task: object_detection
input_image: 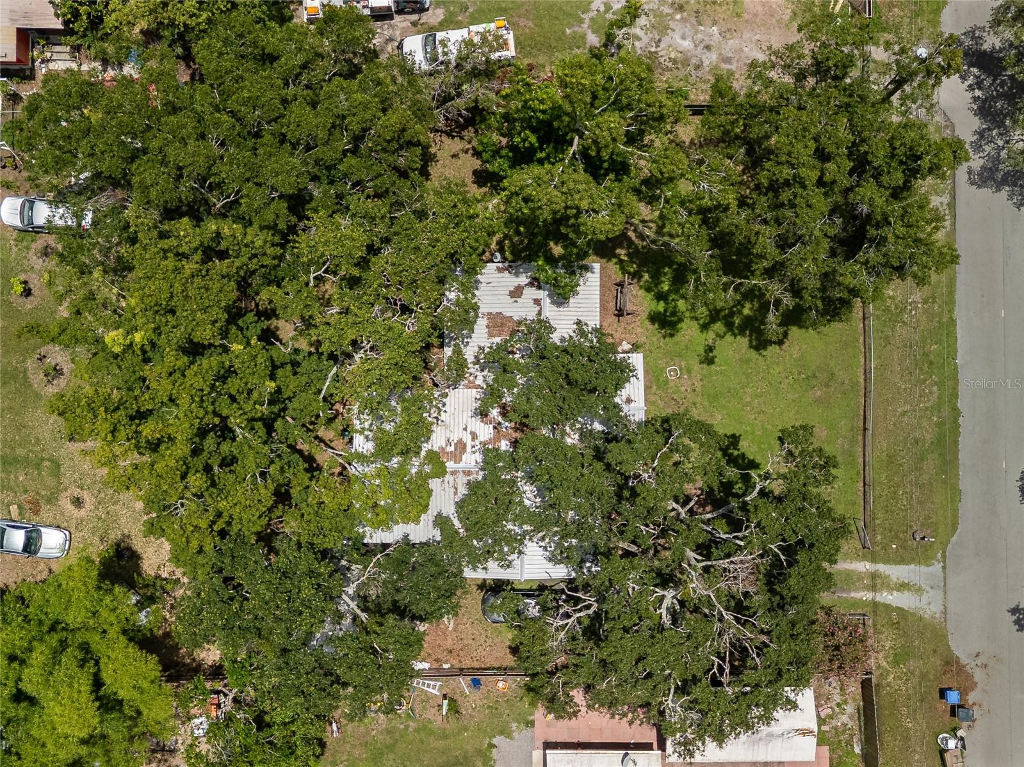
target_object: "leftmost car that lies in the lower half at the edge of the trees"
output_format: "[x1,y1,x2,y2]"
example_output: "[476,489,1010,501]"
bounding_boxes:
[0,515,77,563]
